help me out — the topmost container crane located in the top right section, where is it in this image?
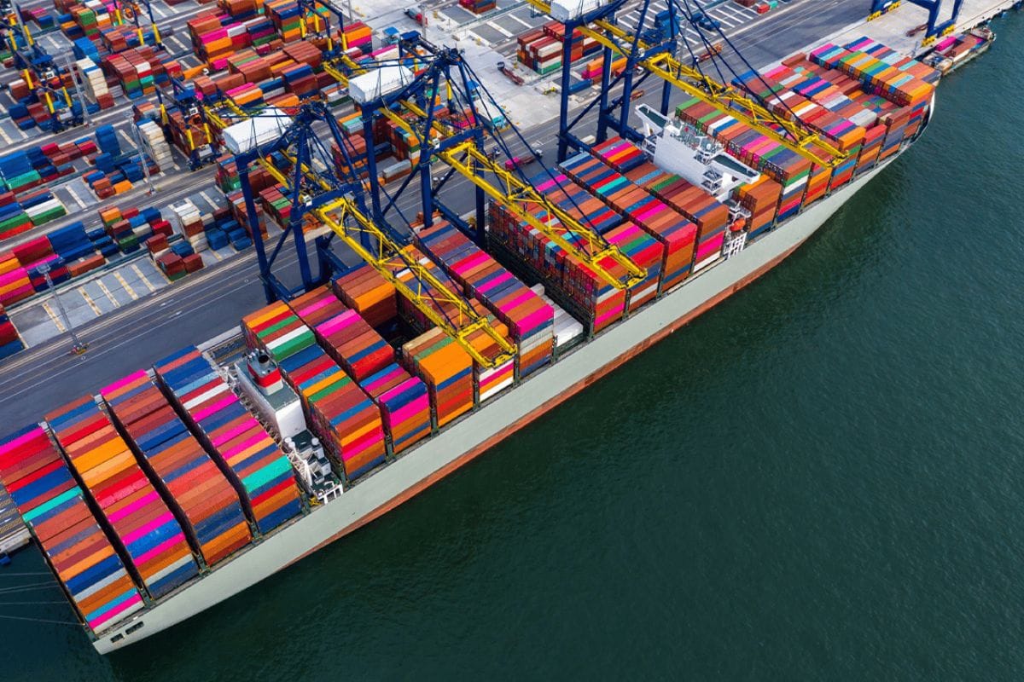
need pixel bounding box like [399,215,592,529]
[863,0,963,46]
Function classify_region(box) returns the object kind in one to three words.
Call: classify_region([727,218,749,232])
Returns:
boat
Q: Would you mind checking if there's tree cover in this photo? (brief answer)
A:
No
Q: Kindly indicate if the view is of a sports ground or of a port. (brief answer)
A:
port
